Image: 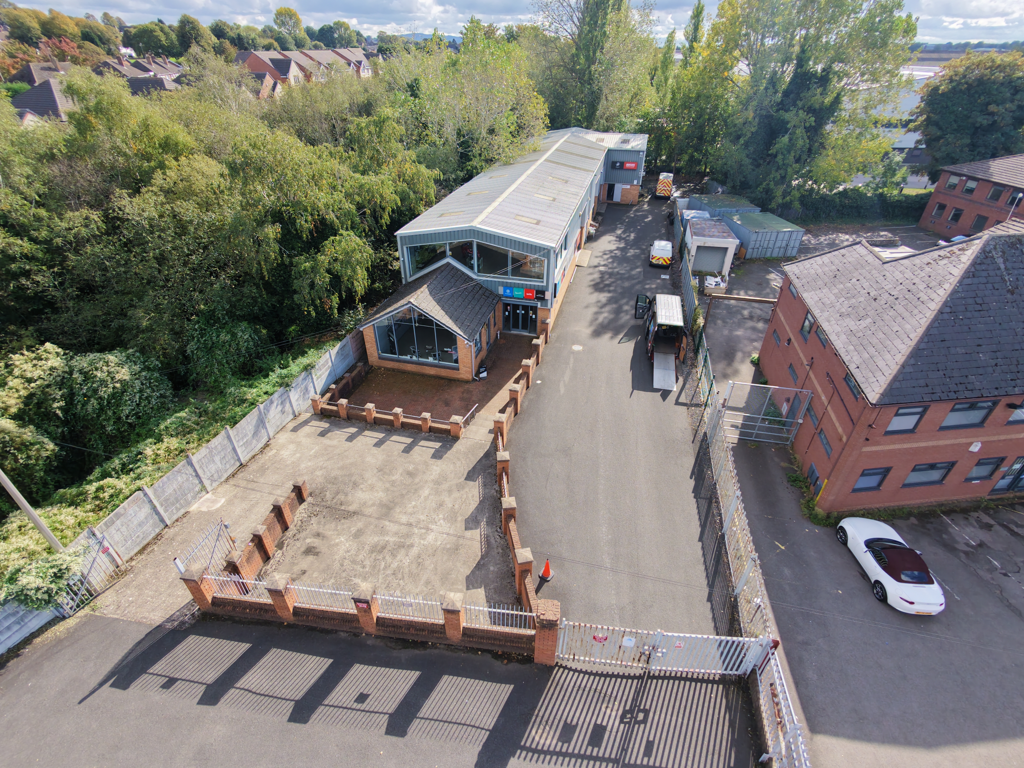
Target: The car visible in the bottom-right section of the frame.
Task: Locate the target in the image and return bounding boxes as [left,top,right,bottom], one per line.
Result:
[842,519,949,618]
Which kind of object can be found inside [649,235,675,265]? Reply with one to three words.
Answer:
vehicle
